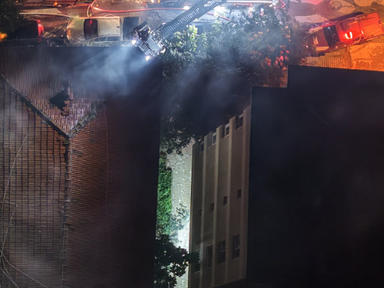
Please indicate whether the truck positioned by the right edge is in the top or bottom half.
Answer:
top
